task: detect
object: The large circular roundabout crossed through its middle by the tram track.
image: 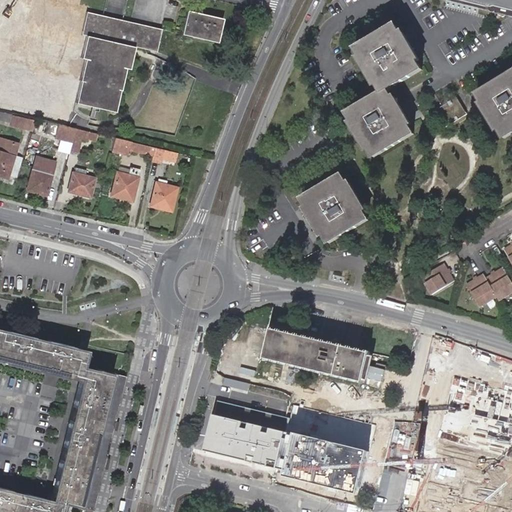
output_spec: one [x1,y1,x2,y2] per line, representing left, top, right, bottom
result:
[174,260,224,310]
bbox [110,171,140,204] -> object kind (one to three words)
house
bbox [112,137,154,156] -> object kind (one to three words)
house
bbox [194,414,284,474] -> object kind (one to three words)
building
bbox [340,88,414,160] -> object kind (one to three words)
building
